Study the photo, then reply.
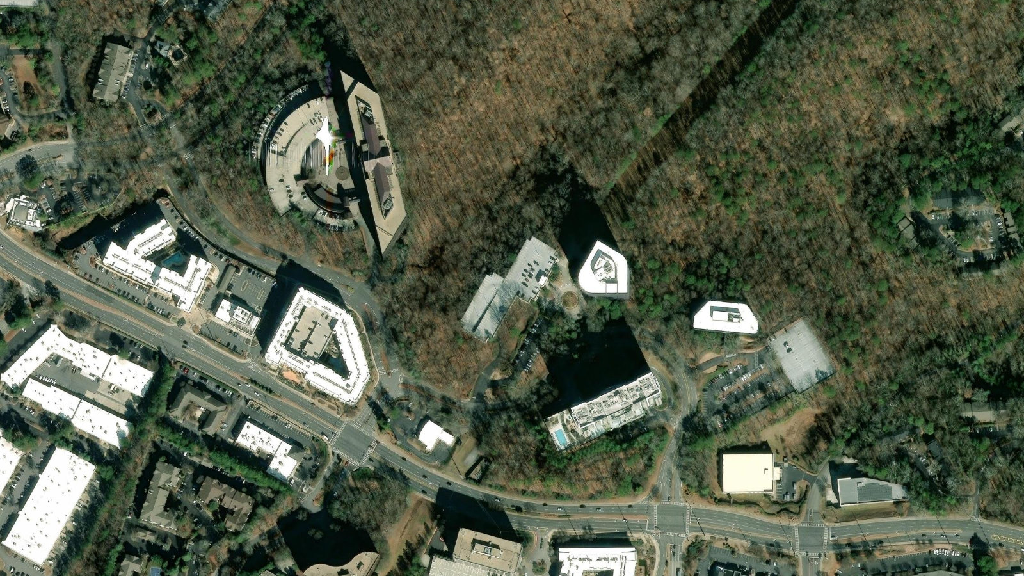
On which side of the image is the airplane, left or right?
left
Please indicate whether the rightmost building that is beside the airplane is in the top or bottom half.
top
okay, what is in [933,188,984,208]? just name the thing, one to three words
house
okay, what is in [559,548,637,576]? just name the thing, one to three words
building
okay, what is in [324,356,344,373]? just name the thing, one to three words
swimming pool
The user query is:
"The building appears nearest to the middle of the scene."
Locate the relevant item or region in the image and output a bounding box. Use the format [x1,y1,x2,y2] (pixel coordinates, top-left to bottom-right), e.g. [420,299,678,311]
[578,240,630,299]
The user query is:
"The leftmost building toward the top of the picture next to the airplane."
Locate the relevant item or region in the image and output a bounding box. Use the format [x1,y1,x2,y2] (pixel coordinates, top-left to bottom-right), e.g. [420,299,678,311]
[304,183,350,214]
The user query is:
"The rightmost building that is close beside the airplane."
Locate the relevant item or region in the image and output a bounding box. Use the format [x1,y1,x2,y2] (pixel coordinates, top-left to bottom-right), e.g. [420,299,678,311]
[340,71,409,258]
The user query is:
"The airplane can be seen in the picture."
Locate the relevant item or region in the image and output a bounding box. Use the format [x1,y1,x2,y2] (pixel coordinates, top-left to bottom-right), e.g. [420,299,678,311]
[316,116,336,176]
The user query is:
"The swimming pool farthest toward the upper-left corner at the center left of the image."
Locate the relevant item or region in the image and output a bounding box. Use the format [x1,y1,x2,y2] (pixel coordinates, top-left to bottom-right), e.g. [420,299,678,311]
[163,252,183,268]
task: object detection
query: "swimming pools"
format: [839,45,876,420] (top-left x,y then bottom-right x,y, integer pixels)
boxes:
[163,252,183,268]
[324,356,344,373]
[555,429,567,446]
